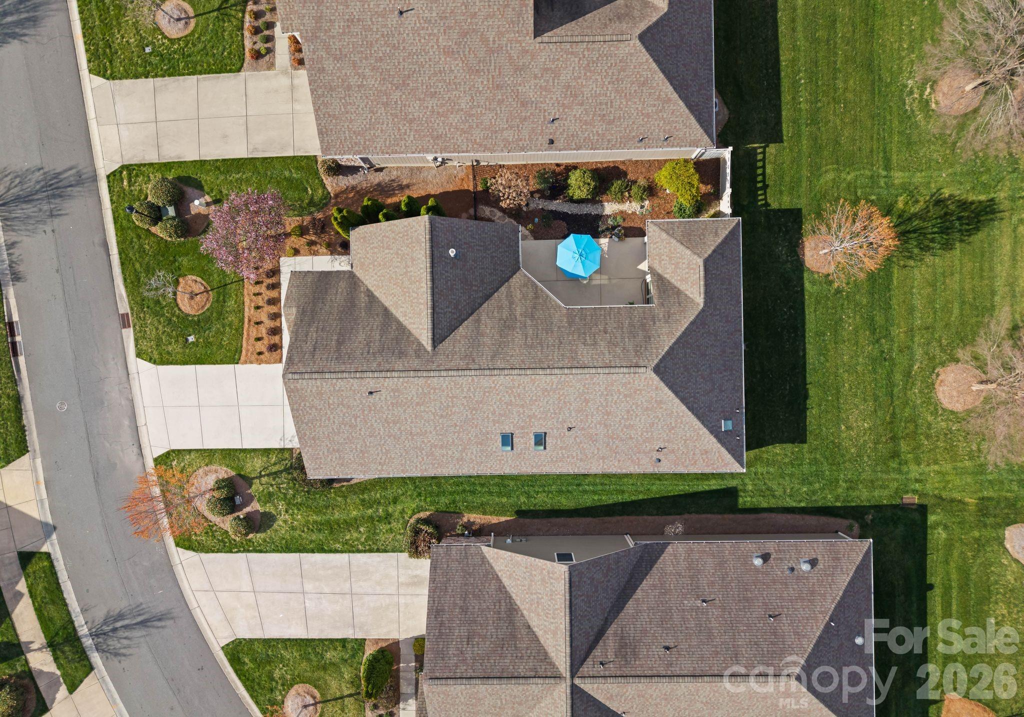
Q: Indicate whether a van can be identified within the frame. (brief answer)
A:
No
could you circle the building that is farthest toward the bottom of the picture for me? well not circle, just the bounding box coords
[417,529,876,717]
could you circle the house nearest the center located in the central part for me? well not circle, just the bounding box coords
[282,215,747,481]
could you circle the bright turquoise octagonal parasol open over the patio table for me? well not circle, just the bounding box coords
[556,234,601,277]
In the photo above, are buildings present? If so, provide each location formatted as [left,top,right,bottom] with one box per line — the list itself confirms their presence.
[282,215,747,481]
[276,0,718,174]
[417,529,876,717]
